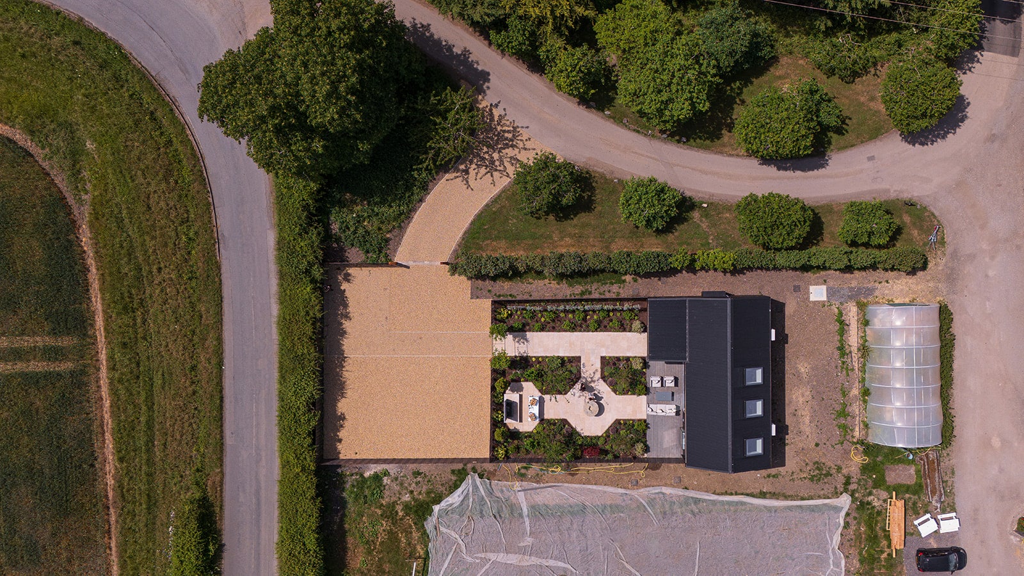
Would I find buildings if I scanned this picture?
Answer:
Yes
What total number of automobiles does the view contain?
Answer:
one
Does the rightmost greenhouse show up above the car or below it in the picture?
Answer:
above it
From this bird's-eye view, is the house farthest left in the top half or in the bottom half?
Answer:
bottom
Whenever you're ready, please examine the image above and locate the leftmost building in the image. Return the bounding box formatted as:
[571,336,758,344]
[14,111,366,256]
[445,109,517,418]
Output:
[644,289,777,475]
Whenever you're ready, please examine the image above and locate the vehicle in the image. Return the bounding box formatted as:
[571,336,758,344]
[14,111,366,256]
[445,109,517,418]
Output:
[913,544,965,574]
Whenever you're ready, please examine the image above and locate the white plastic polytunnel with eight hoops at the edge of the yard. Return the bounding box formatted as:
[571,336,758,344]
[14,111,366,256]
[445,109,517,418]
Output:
[866,305,941,446]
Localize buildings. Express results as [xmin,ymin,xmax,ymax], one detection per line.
[644,289,777,475]
[866,305,941,446]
